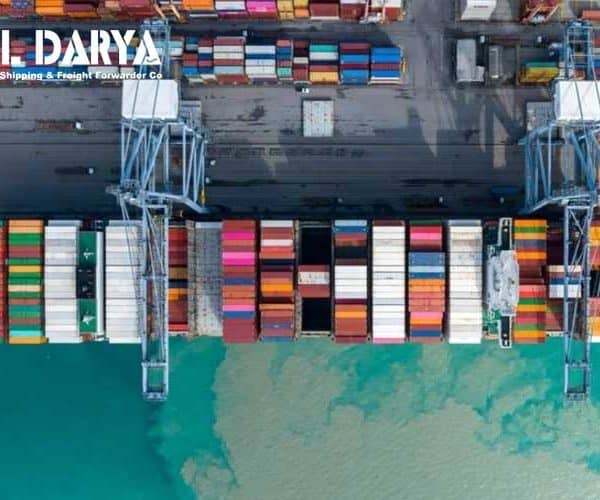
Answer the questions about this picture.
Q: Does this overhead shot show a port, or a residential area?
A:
port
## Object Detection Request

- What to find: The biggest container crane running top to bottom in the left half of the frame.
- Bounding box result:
[107,12,215,403]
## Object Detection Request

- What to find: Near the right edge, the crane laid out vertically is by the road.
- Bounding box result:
[511,12,600,403]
